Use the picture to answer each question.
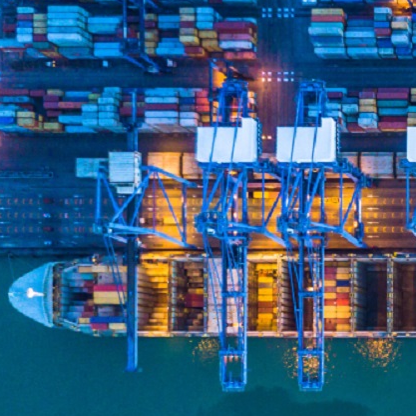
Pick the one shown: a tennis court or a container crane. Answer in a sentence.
The one in the frame is a container crane.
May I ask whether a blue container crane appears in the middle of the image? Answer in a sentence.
Yes, a blue container crane shows up in the middle of the image.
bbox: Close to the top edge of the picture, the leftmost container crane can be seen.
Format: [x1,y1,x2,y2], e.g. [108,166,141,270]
[118,0,164,70]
